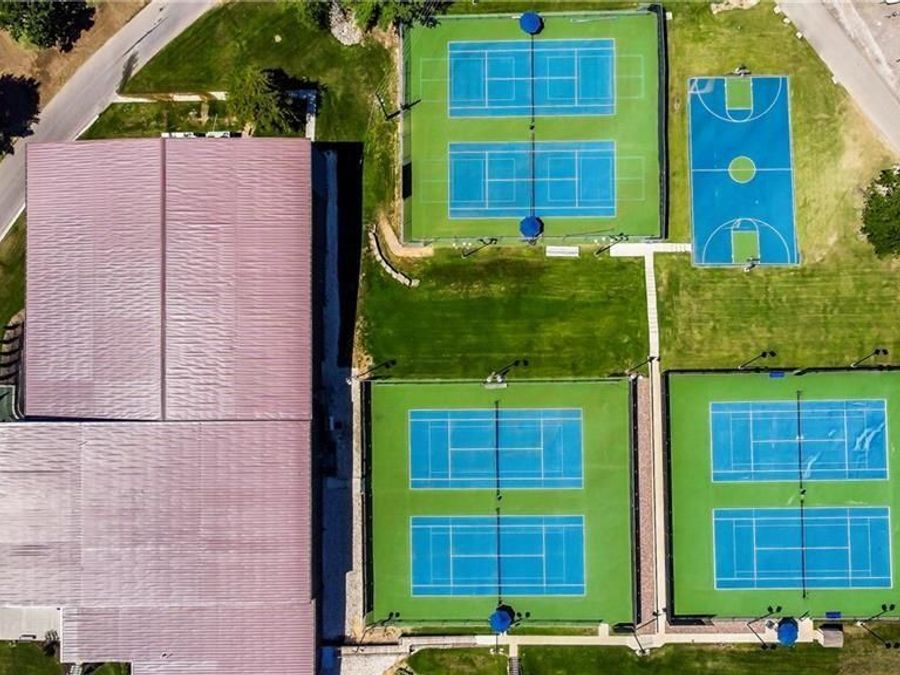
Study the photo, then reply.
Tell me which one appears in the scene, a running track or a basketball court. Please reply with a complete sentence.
It is a basketball court that can be seen here.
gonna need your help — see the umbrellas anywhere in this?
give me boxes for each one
[519,13,543,37]
[777,621,799,642]
[519,216,542,239]
[490,608,512,632]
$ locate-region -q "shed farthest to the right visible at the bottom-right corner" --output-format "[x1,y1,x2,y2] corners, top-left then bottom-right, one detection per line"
[809,628,844,647]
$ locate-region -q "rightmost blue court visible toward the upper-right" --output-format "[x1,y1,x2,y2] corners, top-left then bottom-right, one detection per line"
[687,75,798,266]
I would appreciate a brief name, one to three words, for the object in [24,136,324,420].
building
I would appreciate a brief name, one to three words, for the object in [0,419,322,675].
building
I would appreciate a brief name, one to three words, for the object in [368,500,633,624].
tennis court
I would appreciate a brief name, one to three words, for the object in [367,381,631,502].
tennis court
